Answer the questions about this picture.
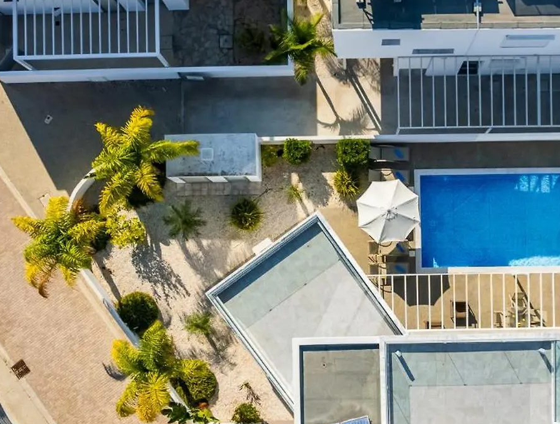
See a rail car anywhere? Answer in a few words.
No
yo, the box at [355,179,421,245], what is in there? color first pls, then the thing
white umbrella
